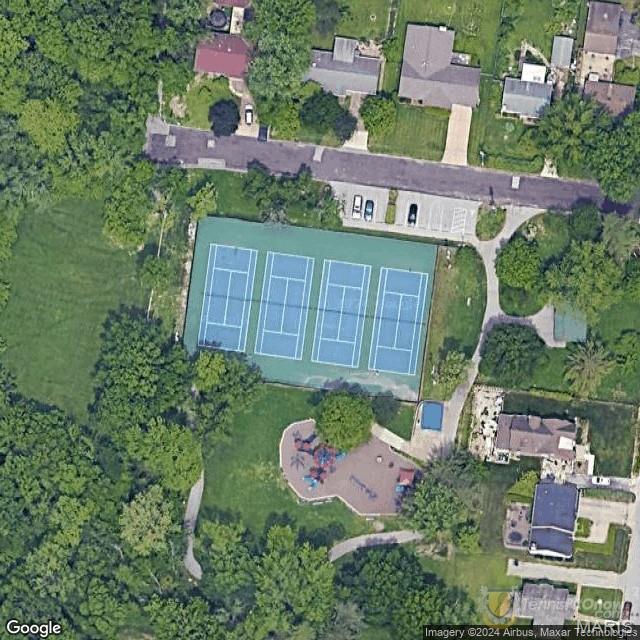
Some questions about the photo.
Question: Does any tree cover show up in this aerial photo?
Yes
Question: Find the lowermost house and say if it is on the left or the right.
right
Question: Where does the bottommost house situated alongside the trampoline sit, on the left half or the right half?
left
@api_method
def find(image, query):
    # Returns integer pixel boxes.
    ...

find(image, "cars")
[352,194,363,218]
[365,199,375,221]
[244,104,253,124]
[592,476,611,486]
[408,202,418,226]
[622,600,632,620]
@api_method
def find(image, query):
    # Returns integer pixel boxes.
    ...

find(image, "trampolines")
[209,9,227,26]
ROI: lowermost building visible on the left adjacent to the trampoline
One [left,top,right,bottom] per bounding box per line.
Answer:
[194,31,249,79]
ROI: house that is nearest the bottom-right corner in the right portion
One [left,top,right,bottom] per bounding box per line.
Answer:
[511,584,577,640]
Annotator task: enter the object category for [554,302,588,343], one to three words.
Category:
building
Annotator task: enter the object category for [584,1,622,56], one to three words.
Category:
house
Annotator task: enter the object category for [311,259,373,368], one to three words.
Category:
tennis court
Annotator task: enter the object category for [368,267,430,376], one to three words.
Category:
tennis court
